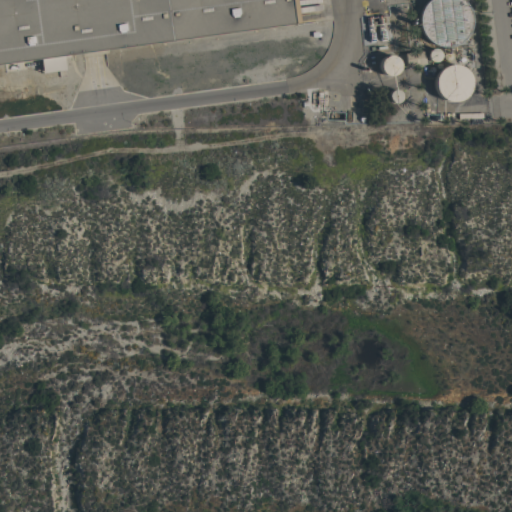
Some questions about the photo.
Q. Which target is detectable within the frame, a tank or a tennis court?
tank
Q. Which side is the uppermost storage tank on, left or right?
right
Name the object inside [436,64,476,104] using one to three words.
storage tank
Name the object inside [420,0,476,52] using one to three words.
storage tank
